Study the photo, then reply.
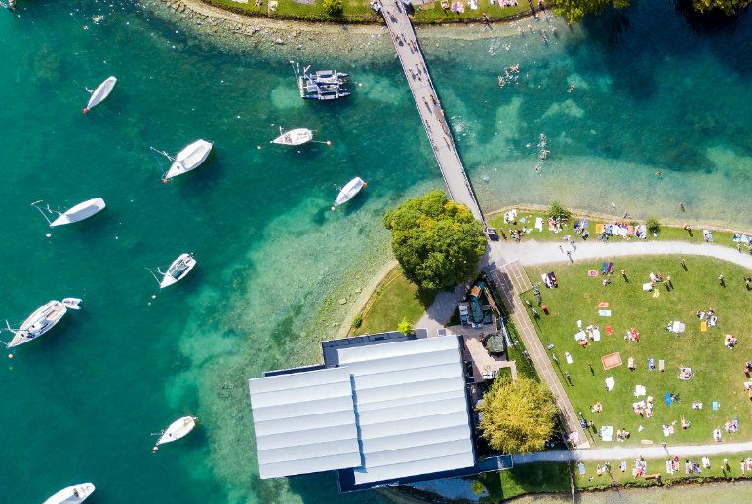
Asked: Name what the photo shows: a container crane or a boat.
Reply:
boat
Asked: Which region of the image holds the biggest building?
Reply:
bottom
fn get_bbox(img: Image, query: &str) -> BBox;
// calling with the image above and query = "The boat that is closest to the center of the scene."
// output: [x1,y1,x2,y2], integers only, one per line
[334,176,368,208]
